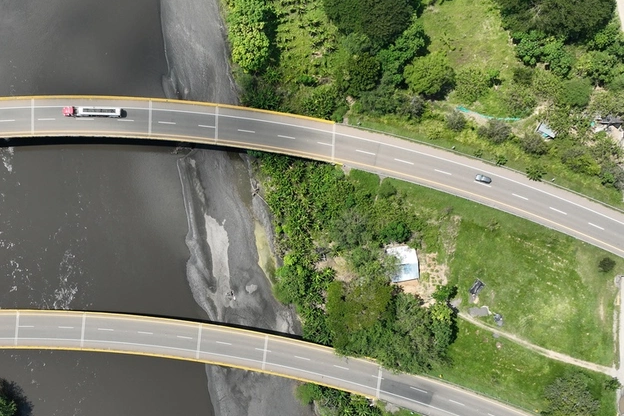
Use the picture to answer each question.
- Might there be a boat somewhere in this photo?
No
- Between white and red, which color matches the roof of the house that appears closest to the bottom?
white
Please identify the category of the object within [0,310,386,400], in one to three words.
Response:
bridge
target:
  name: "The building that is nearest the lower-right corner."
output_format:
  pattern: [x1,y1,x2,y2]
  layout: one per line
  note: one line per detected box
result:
[386,248,419,283]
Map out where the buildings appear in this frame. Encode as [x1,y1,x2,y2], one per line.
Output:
[386,248,419,283]
[594,117,623,135]
[533,120,556,139]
